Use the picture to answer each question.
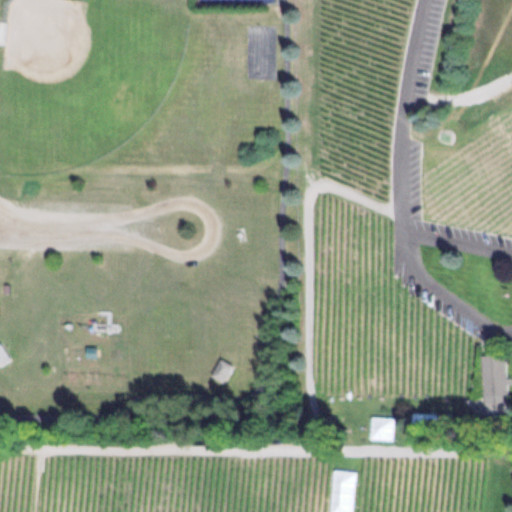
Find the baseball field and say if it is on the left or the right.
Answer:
left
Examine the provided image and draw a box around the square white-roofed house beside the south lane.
[370,418,395,442]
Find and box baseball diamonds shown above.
[0,0,189,176]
